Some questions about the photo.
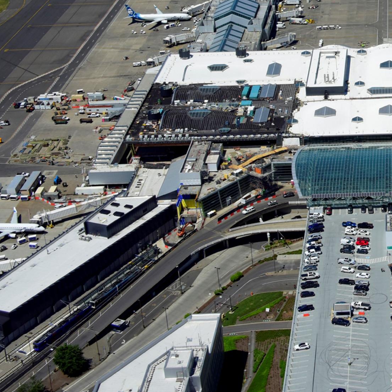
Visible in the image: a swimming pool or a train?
train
